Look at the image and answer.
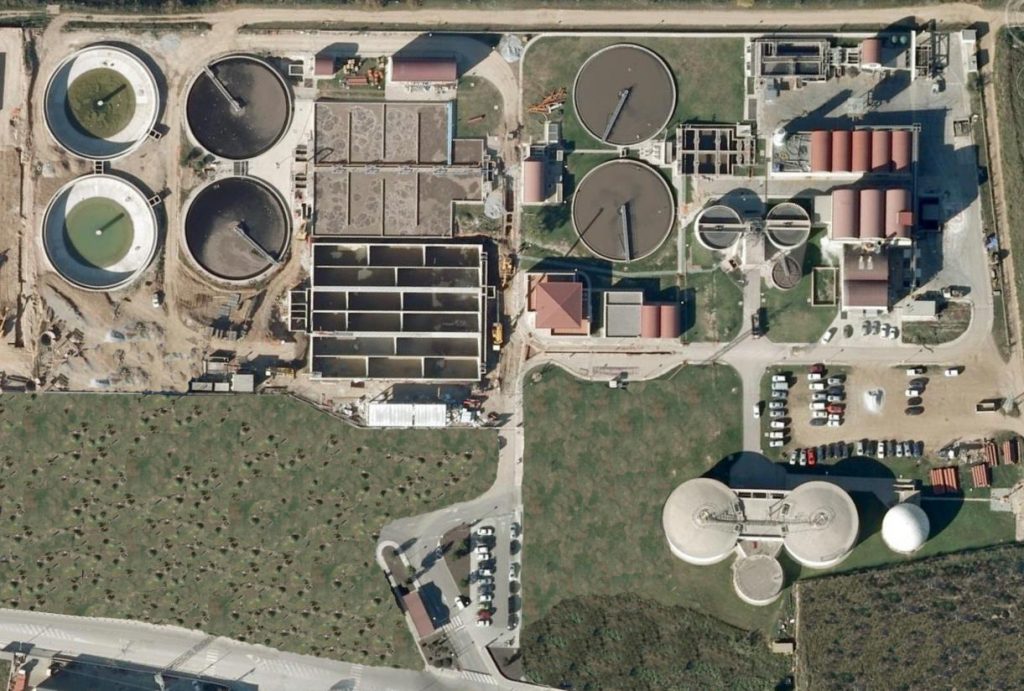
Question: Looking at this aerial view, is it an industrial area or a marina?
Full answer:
This looks like an industrial area.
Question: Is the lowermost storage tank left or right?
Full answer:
The lowermost storage tank is on the right side of the image.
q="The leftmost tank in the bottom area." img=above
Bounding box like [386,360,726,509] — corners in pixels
[661,480,740,563]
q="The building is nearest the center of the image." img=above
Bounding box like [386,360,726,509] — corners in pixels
[526,274,591,340]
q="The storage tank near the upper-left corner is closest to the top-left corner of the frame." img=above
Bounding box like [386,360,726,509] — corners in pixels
[43,47,159,161]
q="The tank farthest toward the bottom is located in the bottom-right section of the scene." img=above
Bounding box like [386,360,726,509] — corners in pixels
[733,555,782,605]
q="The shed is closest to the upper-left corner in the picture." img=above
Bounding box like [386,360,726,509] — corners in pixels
[315,59,334,79]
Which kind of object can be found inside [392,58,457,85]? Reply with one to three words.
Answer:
shed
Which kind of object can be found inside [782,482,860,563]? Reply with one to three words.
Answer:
storage tank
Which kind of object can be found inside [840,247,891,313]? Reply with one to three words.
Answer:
building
